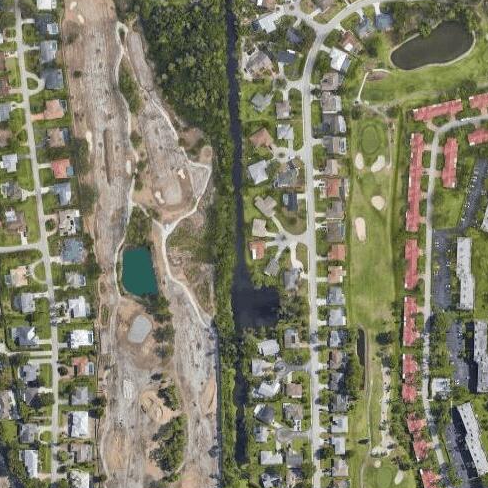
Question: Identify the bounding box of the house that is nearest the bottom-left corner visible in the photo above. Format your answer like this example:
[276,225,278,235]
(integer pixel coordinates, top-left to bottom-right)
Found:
[21,449,38,476]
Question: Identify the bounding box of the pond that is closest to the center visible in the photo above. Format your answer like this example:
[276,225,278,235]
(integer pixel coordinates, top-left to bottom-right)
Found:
[121,244,158,297]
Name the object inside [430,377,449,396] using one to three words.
swimming pool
